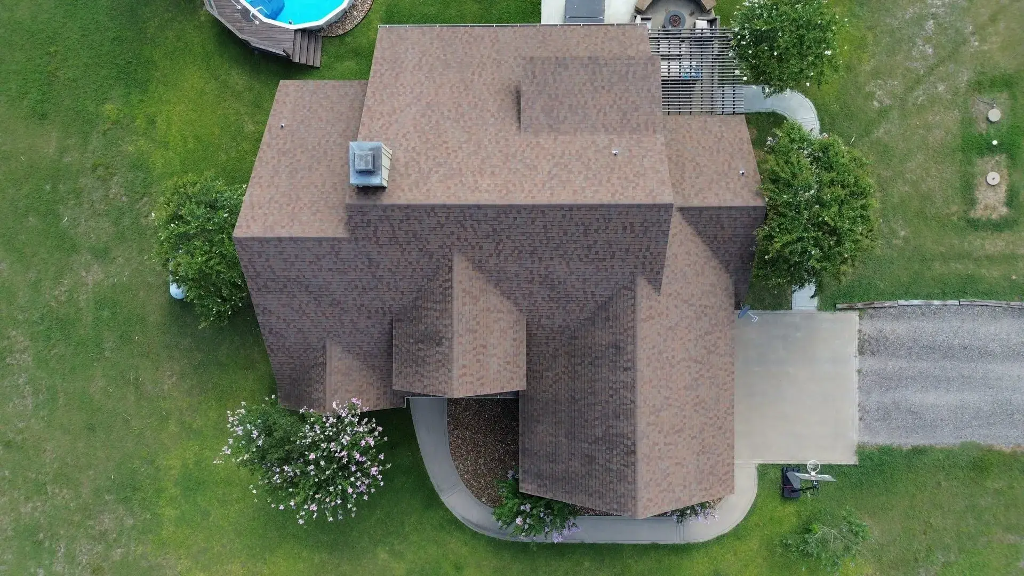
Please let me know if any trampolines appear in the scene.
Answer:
No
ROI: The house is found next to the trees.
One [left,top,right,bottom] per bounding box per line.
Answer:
[233,21,767,521]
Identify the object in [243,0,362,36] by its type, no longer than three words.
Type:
swimming pool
